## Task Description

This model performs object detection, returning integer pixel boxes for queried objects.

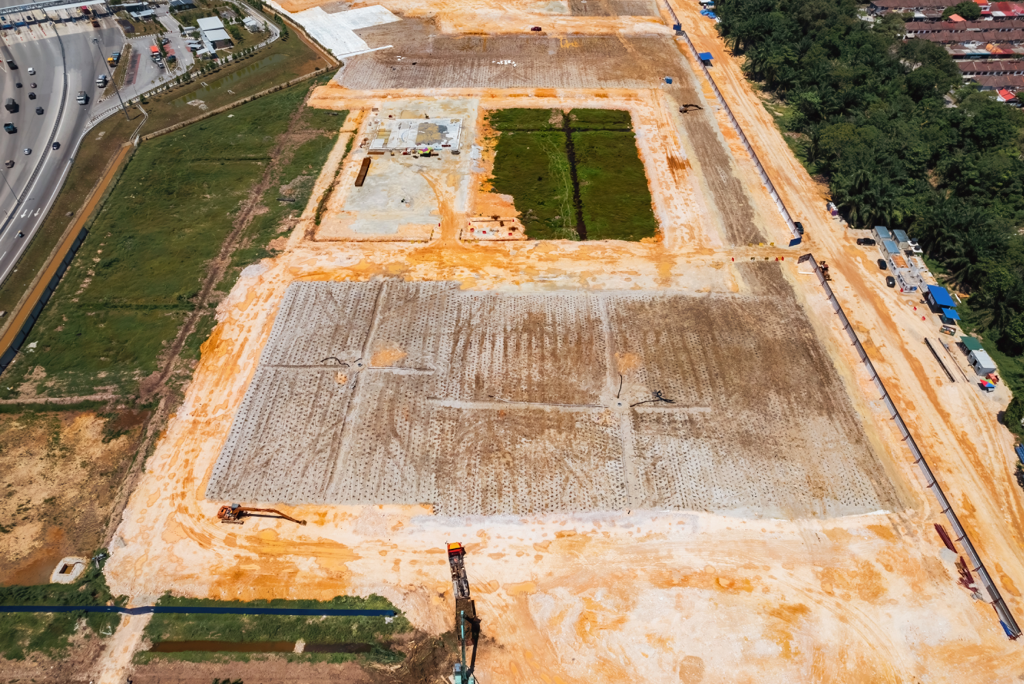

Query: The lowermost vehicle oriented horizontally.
[209,501,301,526]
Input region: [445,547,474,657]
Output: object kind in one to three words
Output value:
truck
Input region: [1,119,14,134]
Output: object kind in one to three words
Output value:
vehicle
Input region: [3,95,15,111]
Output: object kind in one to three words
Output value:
vehicle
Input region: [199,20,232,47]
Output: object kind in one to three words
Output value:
building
